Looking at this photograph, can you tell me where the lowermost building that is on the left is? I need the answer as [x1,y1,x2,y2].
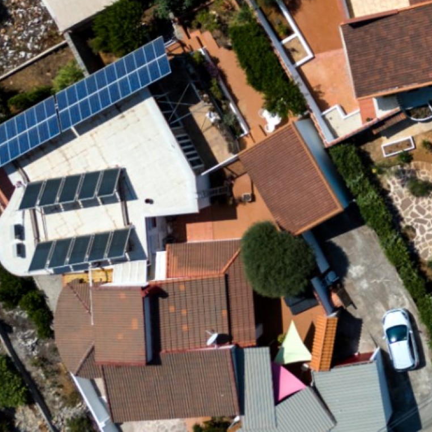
[54,233,266,425]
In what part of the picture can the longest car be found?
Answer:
bottom right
